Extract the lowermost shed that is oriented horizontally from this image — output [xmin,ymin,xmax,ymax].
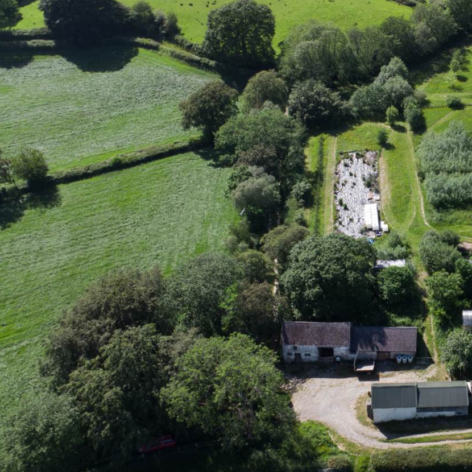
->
[367,379,468,422]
